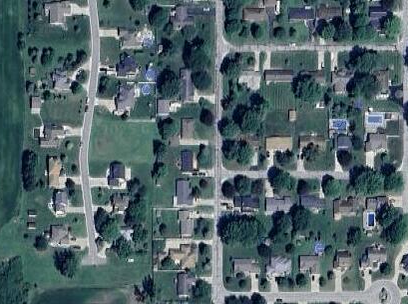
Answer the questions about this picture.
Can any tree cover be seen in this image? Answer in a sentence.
Yes, there's tree cover in this view.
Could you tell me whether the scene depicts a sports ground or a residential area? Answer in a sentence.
What you see here is a residential area.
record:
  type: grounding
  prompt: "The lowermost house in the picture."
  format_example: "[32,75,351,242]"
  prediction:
[178,274,194,298]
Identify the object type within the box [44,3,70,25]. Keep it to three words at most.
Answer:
house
